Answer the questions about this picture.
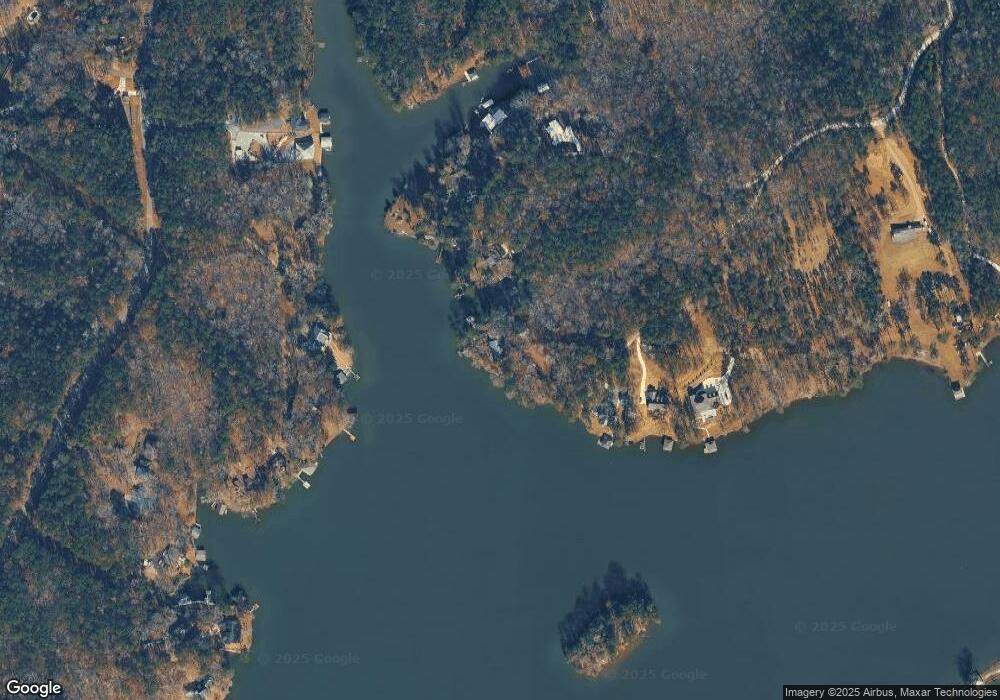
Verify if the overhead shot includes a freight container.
No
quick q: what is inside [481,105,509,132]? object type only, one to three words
house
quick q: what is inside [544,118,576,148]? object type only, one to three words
house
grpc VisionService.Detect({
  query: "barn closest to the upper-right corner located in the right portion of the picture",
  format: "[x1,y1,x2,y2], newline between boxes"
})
[891,222,925,242]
